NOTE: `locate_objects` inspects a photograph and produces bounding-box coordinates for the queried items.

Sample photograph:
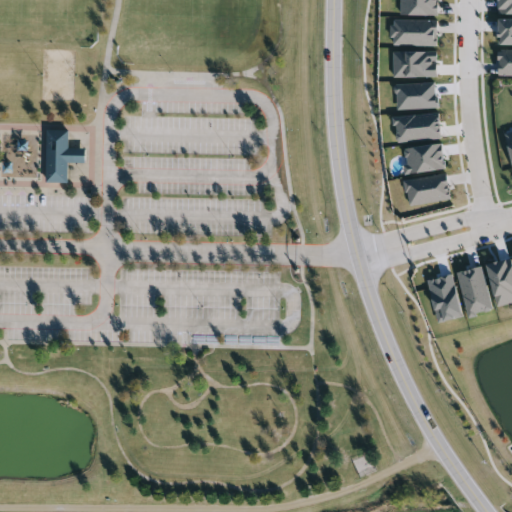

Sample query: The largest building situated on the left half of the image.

[46,128,84,182]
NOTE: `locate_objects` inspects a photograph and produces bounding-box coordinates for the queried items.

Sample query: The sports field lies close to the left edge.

[0,0,94,46]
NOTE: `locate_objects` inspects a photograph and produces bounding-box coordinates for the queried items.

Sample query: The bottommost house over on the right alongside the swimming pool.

[406,172,450,206]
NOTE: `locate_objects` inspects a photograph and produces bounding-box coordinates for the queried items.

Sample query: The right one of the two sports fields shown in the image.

[124,0,262,56]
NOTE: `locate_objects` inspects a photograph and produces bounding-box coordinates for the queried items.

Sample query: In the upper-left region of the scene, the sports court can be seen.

[42,50,74,101]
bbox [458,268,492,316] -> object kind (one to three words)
house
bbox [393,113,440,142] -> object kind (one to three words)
house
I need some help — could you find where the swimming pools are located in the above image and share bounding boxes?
[388,156,405,178]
